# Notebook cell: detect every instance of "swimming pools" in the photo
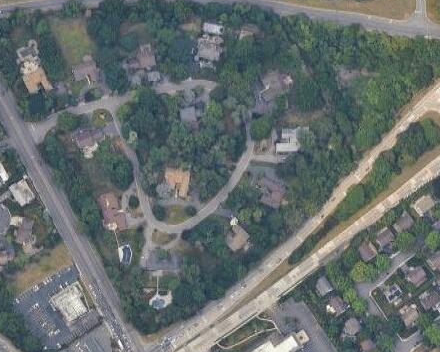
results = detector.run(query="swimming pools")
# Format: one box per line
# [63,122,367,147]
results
[148,291,173,309]
[119,244,133,264]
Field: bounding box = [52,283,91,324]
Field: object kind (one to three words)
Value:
building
